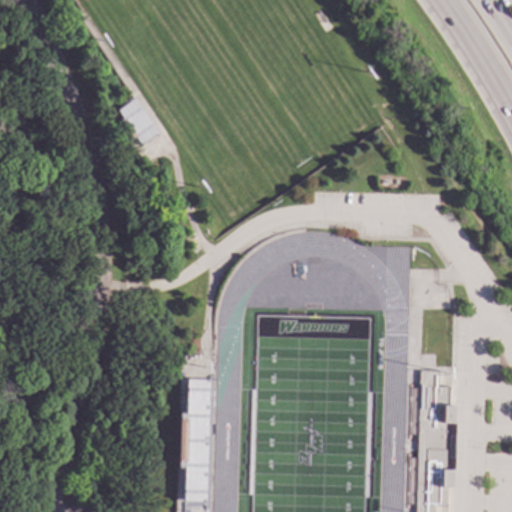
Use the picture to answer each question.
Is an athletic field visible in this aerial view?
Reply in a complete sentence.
Yes, there's an athletic field here.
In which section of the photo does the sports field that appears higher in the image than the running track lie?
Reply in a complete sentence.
You can find the sports field that appears higher in the image than the running track in the top area of the picture.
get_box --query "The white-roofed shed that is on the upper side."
[120,99,159,143]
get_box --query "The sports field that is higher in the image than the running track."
[80,0,385,241]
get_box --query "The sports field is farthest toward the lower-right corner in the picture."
[238,308,384,512]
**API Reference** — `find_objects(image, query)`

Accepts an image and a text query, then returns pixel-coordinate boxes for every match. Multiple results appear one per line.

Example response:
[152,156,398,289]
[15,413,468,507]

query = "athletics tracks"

[212,232,412,512]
